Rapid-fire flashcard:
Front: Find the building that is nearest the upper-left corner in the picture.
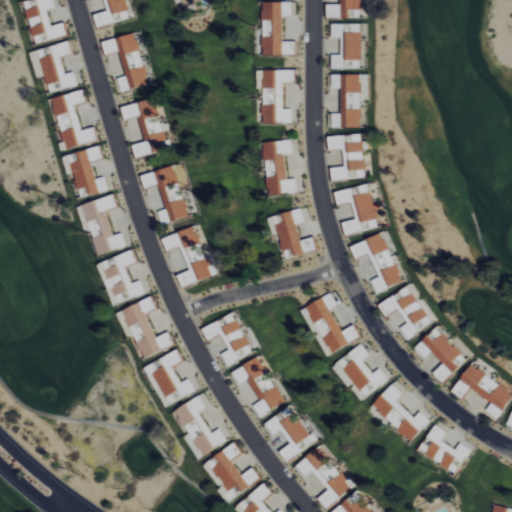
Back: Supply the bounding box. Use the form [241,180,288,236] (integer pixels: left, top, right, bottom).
[21,0,72,44]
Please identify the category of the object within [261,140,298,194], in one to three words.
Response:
house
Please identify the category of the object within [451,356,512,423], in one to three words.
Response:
house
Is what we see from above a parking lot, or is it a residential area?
residential area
